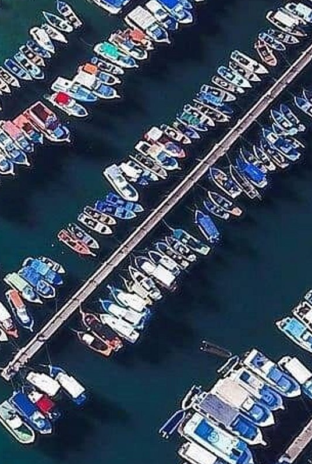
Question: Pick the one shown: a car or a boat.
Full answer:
I can see a boat in this picture.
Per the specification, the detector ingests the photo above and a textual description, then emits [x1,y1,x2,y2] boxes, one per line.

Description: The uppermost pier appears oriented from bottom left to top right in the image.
[0,39,312,385]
